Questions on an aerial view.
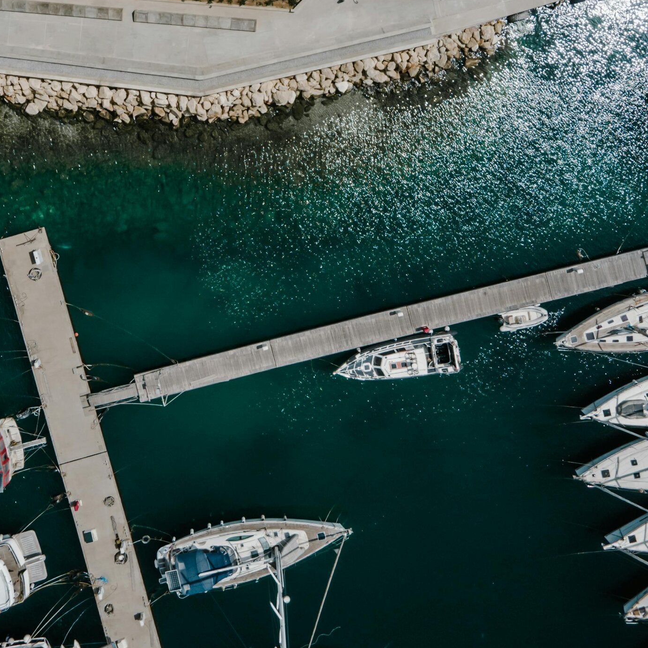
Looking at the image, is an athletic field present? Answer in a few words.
No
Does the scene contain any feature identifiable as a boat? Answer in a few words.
Yes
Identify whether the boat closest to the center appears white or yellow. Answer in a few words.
white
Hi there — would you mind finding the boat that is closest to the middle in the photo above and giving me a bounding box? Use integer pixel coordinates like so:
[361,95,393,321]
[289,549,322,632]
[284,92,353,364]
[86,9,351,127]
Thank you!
[324,325,460,384]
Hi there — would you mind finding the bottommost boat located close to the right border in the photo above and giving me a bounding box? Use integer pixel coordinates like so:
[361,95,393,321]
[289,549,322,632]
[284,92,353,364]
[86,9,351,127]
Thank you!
[609,584,648,629]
